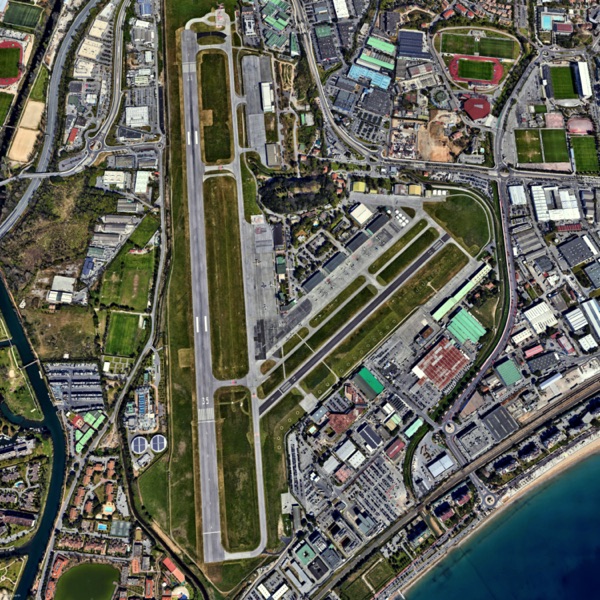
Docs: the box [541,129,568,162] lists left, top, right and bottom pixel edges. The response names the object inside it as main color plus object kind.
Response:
green soccer field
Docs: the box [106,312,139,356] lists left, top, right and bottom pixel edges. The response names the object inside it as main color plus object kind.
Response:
green soccer field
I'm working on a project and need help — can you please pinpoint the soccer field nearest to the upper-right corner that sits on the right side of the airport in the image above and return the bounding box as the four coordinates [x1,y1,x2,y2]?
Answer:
[550,66,578,99]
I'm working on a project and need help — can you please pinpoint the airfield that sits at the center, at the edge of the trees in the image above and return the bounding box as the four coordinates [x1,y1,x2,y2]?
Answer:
[140,0,494,593]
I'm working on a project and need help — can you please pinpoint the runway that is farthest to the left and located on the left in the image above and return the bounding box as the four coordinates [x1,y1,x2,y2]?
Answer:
[181,30,220,562]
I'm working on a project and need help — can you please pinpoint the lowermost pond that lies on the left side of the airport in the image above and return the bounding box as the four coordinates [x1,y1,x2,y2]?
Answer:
[56,562,120,600]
